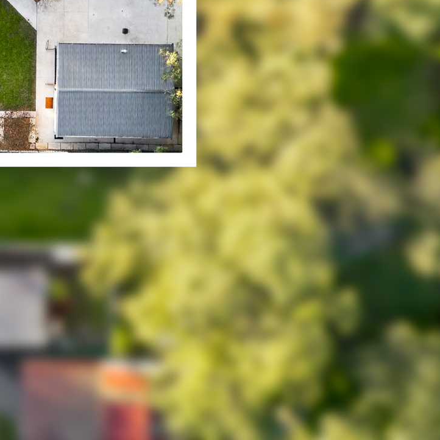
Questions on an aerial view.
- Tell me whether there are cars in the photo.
No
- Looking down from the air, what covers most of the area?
trees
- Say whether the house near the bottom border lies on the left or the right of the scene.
left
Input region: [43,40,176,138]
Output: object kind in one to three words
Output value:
shed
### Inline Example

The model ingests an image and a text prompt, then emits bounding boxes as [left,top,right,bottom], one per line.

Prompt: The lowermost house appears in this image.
[21,357,158,440]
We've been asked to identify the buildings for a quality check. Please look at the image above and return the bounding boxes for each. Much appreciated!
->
[21,357,158,440]
[43,40,176,138]
[0,265,48,347]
